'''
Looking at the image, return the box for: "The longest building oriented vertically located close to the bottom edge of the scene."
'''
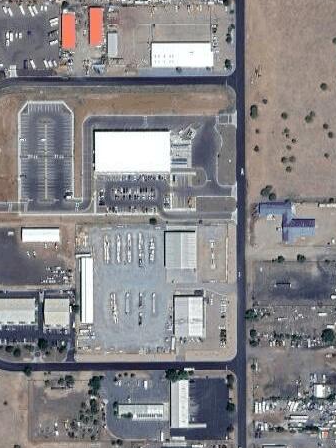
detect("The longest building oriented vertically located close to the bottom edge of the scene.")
[172,381,189,428]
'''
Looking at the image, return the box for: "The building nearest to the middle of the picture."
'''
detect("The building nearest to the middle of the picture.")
[166,232,196,268]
